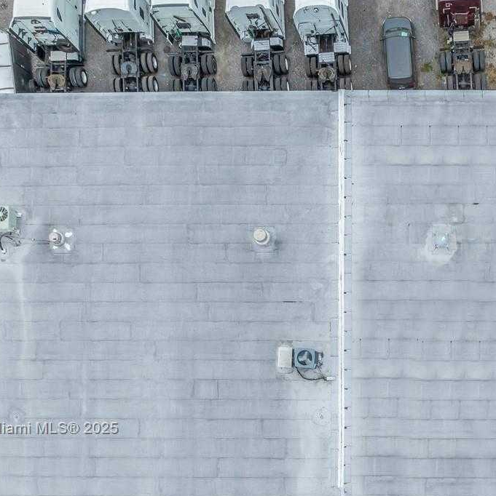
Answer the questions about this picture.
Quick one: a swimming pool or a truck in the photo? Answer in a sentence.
It is a truck that can be seen here.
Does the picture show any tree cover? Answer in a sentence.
No, there is no tree cover in the image.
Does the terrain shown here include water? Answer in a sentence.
No, no water is visible.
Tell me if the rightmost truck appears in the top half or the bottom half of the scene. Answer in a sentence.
It is in the top half that the rightmost truck appears.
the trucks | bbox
[7,0,89,91]
[440,0,486,91]
[295,0,352,90]
[228,0,289,90]
[151,0,220,91]
[86,0,160,91]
